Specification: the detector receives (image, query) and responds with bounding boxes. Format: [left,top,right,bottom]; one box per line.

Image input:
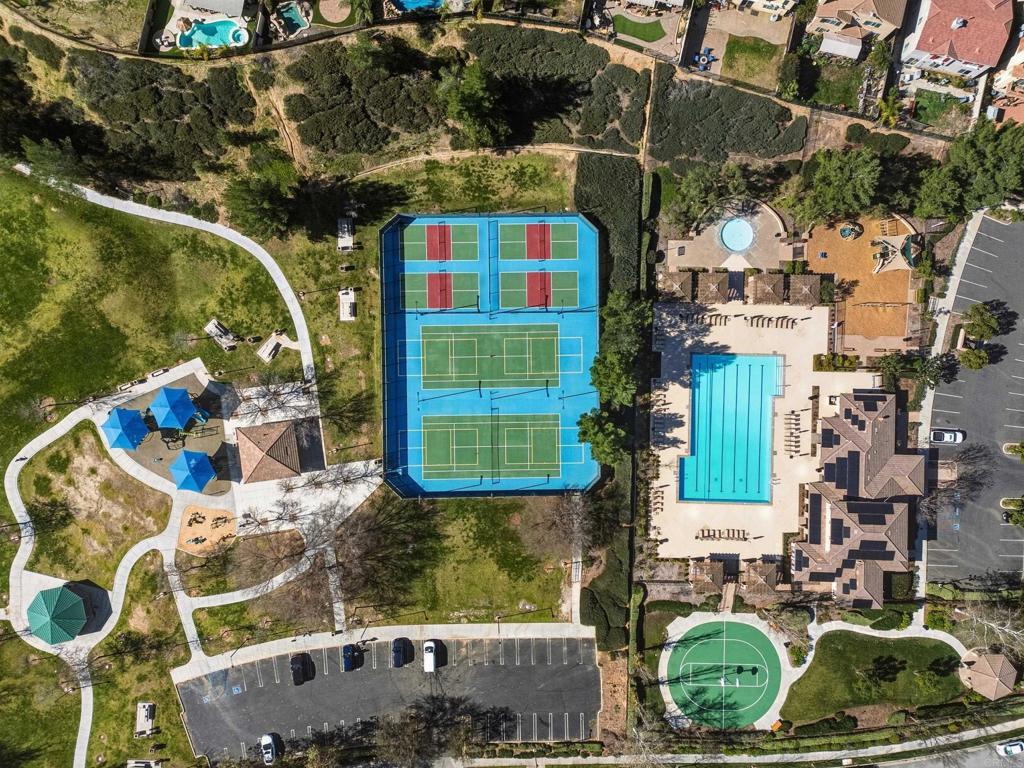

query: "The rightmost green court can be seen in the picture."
[667,619,780,732]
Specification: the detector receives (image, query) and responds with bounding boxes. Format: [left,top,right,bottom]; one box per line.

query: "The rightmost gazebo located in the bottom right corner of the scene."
[961,651,1016,702]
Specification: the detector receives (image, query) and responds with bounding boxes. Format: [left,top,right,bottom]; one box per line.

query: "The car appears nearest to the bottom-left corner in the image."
[258,736,275,767]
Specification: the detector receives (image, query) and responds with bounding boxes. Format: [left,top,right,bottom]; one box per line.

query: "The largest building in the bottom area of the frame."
[791,393,925,610]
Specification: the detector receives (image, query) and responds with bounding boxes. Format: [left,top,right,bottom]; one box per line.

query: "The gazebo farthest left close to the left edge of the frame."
[27,584,93,644]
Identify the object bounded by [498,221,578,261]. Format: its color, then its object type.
green sports court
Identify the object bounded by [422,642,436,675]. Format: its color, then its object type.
white vehicle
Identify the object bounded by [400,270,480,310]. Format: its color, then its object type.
green sports court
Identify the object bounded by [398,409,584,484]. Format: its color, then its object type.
green tennis court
